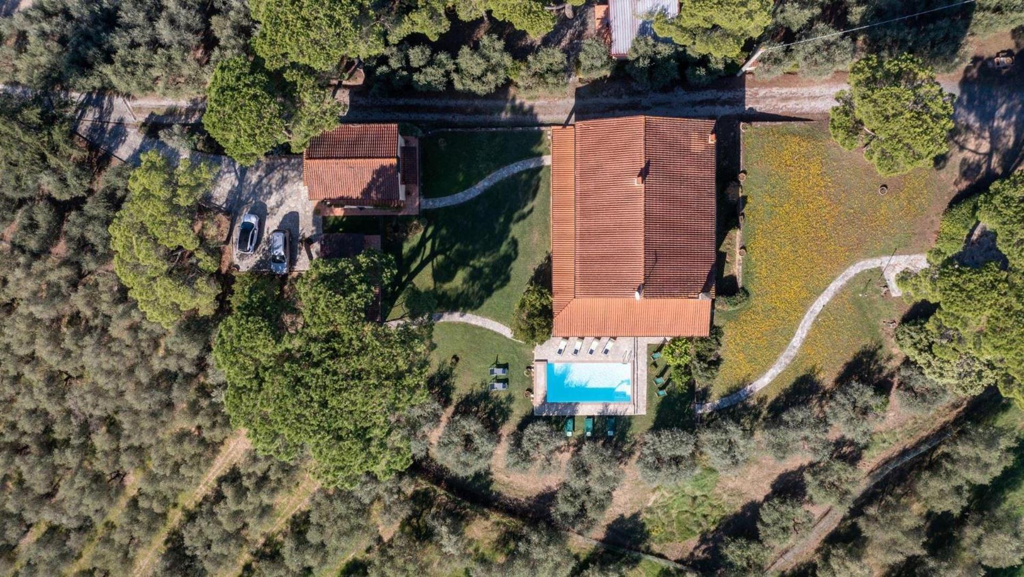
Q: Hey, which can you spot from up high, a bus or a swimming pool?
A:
swimming pool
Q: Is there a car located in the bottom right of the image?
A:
No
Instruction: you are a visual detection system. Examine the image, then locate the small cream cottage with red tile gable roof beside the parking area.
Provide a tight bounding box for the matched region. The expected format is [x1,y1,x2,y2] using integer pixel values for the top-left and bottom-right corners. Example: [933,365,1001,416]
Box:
[299,123,419,212]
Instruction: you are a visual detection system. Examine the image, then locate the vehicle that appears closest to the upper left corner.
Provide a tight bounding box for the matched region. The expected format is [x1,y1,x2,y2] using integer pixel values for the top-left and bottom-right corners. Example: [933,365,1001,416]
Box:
[237,214,260,253]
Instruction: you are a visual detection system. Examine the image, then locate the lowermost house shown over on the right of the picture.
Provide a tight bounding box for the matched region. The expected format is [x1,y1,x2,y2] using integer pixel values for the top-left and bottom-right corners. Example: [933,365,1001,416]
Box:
[550,109,716,337]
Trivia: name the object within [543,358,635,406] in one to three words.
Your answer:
swimming pool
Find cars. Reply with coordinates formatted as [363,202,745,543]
[268,230,290,273]
[237,214,260,253]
